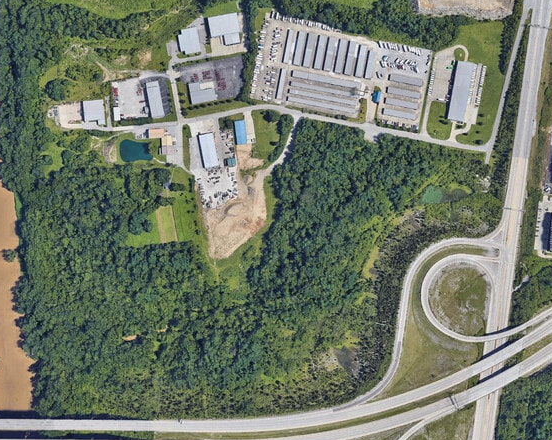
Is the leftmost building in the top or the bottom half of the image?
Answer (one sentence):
The leftmost building is in the top half of the image.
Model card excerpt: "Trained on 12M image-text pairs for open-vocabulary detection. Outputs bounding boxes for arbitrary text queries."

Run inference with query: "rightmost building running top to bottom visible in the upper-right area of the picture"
[448,62,477,121]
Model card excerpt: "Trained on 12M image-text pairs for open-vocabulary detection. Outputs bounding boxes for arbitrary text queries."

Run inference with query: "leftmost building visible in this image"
[84,100,105,125]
